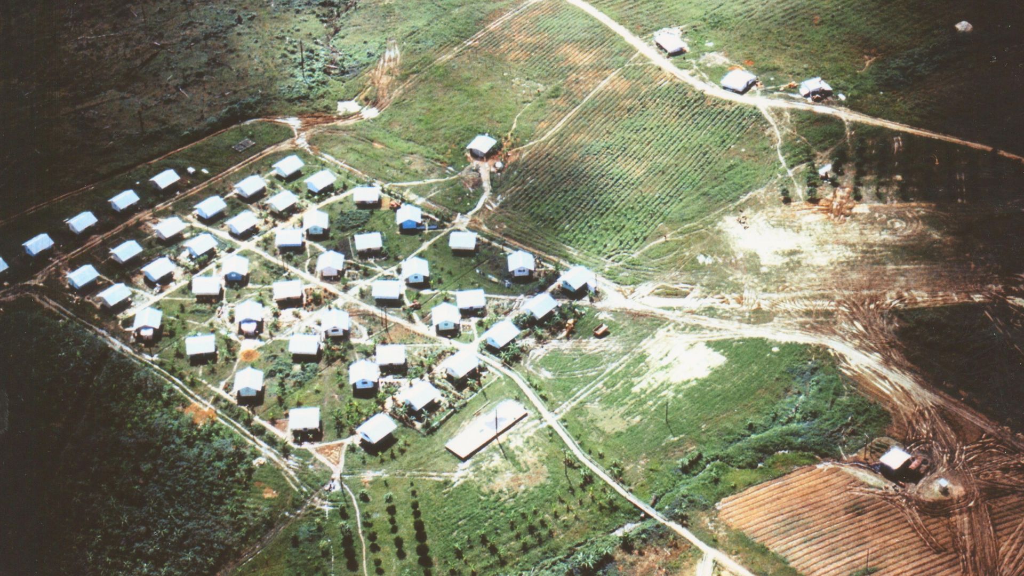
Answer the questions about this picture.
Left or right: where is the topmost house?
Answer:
right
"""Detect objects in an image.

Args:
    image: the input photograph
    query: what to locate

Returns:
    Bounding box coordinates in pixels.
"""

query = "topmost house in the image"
[653,30,687,59]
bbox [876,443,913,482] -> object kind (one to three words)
shed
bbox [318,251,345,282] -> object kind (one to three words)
house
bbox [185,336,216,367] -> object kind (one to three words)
house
